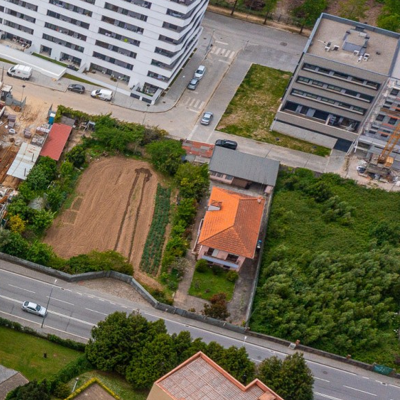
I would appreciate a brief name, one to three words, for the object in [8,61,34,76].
vehicle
